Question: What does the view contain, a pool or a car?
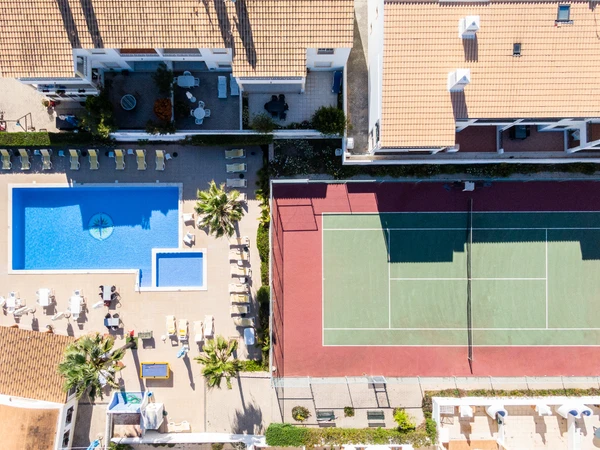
pool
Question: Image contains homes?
Yes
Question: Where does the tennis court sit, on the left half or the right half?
right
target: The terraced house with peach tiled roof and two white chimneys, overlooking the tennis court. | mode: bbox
[368,0,600,156]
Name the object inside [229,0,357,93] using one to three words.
house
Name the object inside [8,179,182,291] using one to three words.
swimming pool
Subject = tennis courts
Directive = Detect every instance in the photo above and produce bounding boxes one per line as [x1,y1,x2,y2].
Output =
[274,183,600,377]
